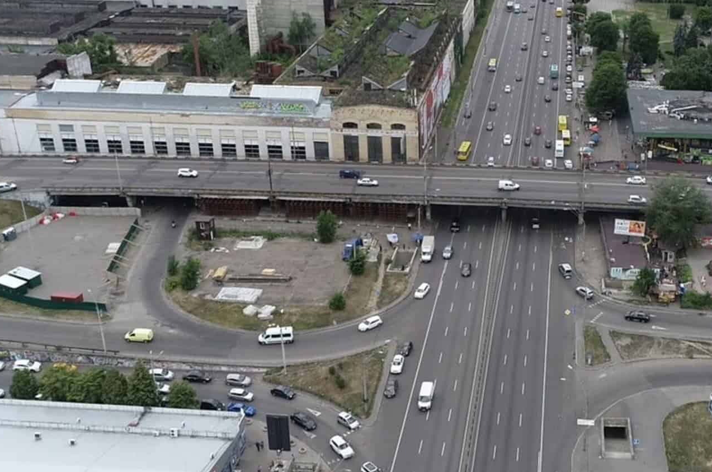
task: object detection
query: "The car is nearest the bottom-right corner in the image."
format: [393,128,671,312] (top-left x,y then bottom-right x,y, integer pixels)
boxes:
[625,310,649,323]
